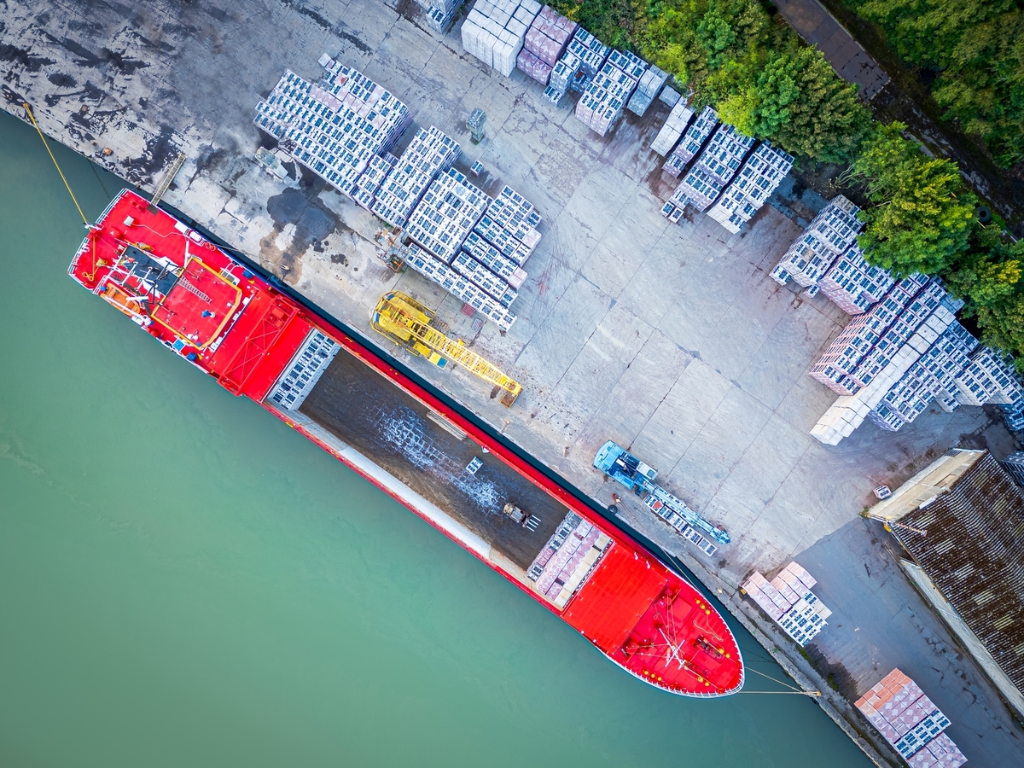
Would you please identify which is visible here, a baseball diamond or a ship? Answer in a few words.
ship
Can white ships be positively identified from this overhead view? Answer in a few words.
No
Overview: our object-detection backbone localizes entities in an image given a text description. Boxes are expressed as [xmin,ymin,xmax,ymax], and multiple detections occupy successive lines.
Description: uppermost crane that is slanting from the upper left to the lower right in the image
[370,291,524,408]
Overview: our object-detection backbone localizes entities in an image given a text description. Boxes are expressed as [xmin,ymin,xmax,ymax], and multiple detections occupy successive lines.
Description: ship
[65,189,747,701]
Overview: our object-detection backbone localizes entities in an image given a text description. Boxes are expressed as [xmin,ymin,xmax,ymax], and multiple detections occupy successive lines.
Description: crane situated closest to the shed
[592,439,731,544]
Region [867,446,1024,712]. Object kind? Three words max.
shed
